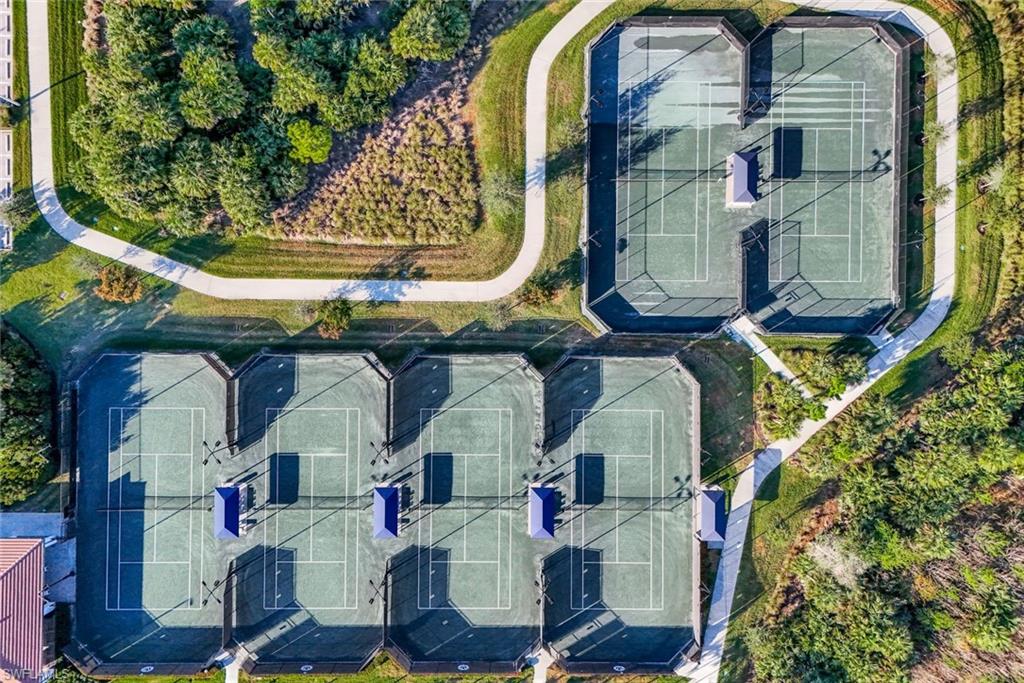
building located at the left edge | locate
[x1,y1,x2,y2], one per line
[0,533,62,683]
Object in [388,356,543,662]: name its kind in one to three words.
tennis court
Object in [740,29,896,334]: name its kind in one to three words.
tennis court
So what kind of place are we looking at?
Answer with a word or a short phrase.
sports ground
